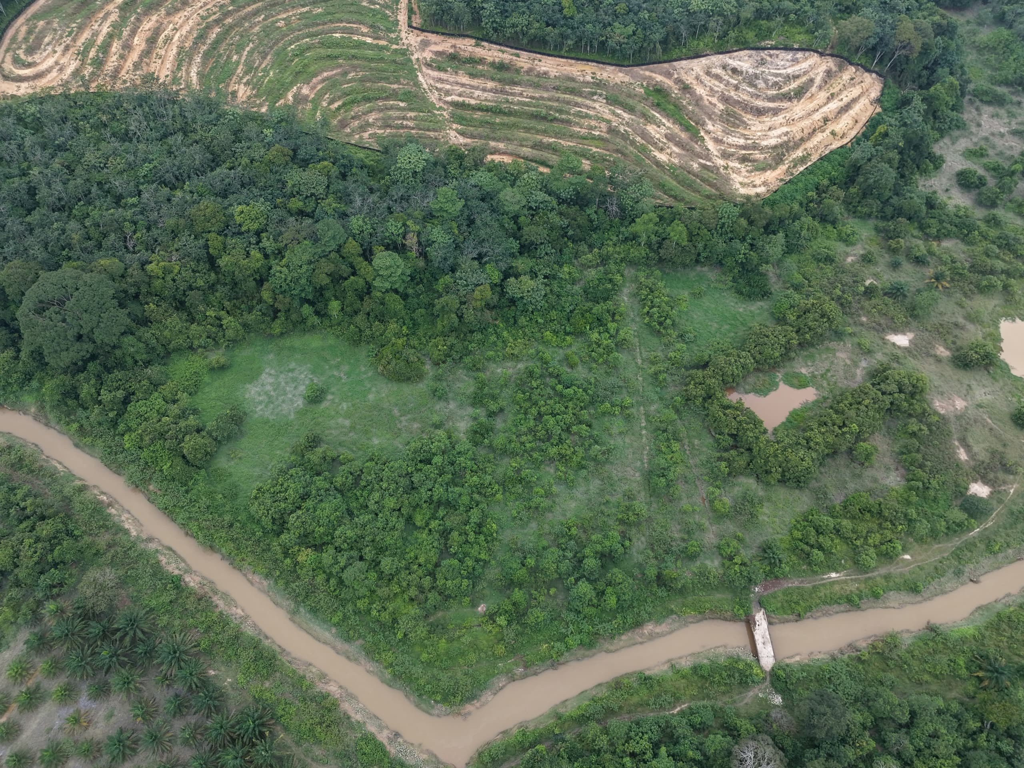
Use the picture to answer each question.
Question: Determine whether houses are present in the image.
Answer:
No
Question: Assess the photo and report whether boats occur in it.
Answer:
No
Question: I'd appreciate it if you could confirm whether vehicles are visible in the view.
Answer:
No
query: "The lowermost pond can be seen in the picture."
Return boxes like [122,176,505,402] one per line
[726,383,816,435]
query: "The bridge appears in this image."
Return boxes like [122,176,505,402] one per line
[747,608,775,668]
